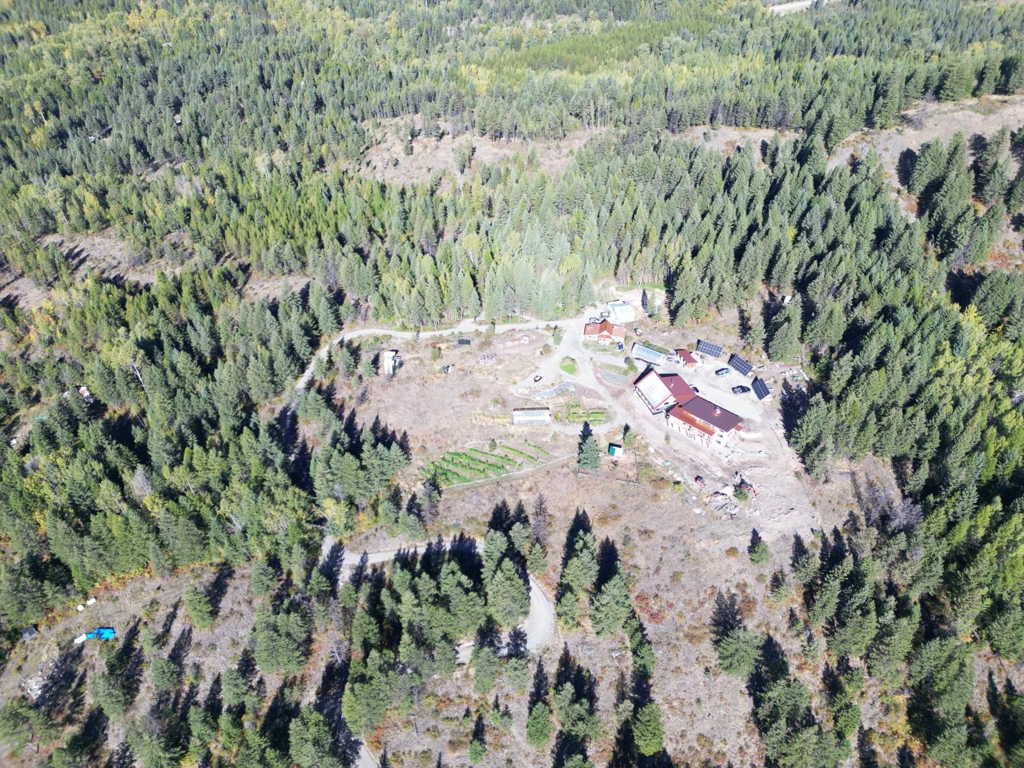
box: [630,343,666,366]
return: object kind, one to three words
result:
greenhouse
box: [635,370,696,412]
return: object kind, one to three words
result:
house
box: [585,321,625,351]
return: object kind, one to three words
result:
house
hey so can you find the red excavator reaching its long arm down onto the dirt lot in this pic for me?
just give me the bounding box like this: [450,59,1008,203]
[737,479,767,499]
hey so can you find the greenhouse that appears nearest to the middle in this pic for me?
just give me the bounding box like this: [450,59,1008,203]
[512,411,552,430]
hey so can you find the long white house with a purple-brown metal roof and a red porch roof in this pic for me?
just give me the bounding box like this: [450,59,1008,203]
[664,396,743,469]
